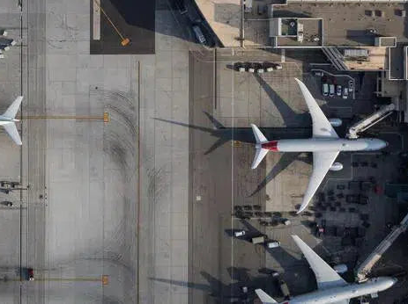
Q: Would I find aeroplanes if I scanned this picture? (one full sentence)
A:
Yes, an aeroplane can be made out from above.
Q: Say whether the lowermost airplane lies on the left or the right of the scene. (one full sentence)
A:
You can find the lowermost airplane on the right side of the picture.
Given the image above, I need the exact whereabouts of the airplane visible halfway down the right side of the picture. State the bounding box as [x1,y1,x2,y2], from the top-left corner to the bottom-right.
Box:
[249,78,388,214]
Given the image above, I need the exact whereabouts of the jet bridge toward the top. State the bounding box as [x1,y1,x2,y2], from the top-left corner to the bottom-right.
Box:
[344,102,399,141]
